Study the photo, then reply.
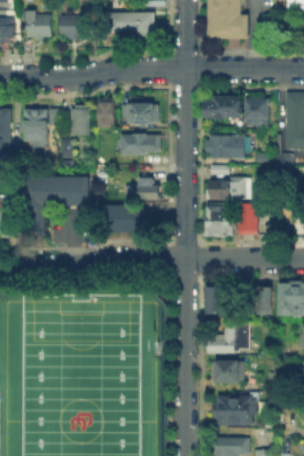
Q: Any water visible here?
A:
No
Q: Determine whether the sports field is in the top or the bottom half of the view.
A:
bottom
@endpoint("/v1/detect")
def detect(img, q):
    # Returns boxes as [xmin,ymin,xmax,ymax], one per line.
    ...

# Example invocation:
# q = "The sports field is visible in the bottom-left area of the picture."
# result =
[0,293,165,456]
